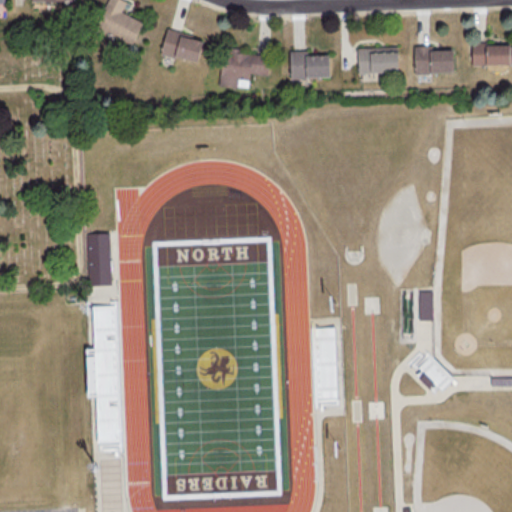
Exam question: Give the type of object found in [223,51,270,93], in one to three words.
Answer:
house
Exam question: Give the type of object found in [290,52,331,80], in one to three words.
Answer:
house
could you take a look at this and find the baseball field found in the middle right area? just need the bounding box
[434,116,512,376]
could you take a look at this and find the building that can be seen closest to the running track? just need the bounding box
[88,234,112,286]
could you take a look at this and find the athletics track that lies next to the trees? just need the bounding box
[117,159,318,512]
